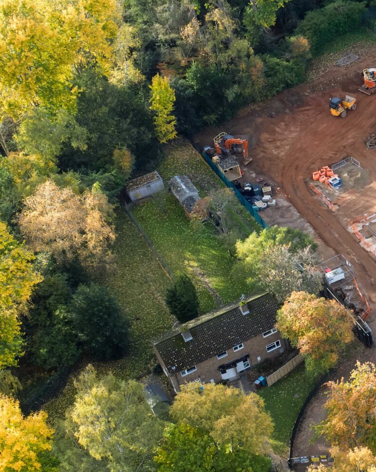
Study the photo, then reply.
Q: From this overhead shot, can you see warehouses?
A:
No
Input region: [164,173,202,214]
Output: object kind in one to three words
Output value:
shed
